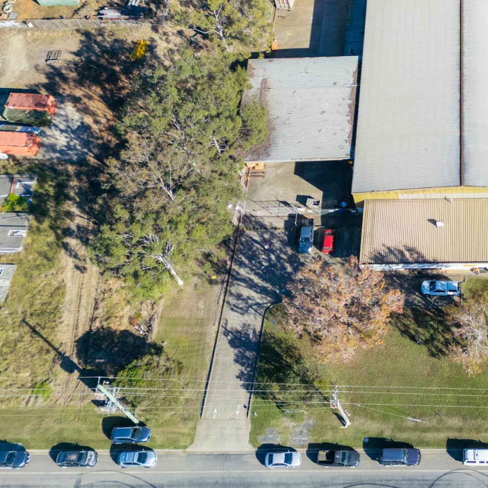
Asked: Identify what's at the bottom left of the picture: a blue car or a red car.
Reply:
blue car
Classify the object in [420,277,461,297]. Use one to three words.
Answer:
vehicle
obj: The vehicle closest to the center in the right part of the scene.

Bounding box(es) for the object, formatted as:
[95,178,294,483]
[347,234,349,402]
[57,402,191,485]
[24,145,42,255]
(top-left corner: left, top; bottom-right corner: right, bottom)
[297,218,315,257]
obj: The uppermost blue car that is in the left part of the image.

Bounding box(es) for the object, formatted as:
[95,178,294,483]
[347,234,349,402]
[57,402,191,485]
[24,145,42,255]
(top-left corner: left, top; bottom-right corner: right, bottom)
[109,424,153,444]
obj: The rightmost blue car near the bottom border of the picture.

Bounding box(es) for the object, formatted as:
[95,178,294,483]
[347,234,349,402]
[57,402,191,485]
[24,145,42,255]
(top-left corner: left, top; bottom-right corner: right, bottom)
[378,445,422,468]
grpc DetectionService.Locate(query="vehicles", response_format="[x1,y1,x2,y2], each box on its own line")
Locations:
[463,448,488,468]
[420,277,461,297]
[0,445,32,468]
[378,445,422,468]
[321,229,339,258]
[297,218,315,257]
[55,448,101,469]
[117,447,160,468]
[265,448,303,469]
[316,446,360,468]
[109,424,153,444]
